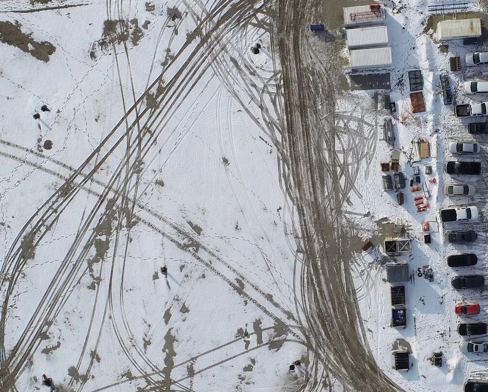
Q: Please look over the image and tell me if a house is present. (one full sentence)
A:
No, no house can be seen from above.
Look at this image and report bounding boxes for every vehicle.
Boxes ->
[446,253,477,268]
[453,100,488,117]
[443,182,476,198]
[444,160,481,176]
[455,301,480,317]
[439,205,478,222]
[449,141,480,155]
[458,340,488,354]
[464,50,488,67]
[451,274,484,290]
[467,123,488,133]
[457,322,487,337]
[448,229,477,244]
[463,80,488,95]
[463,380,488,392]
